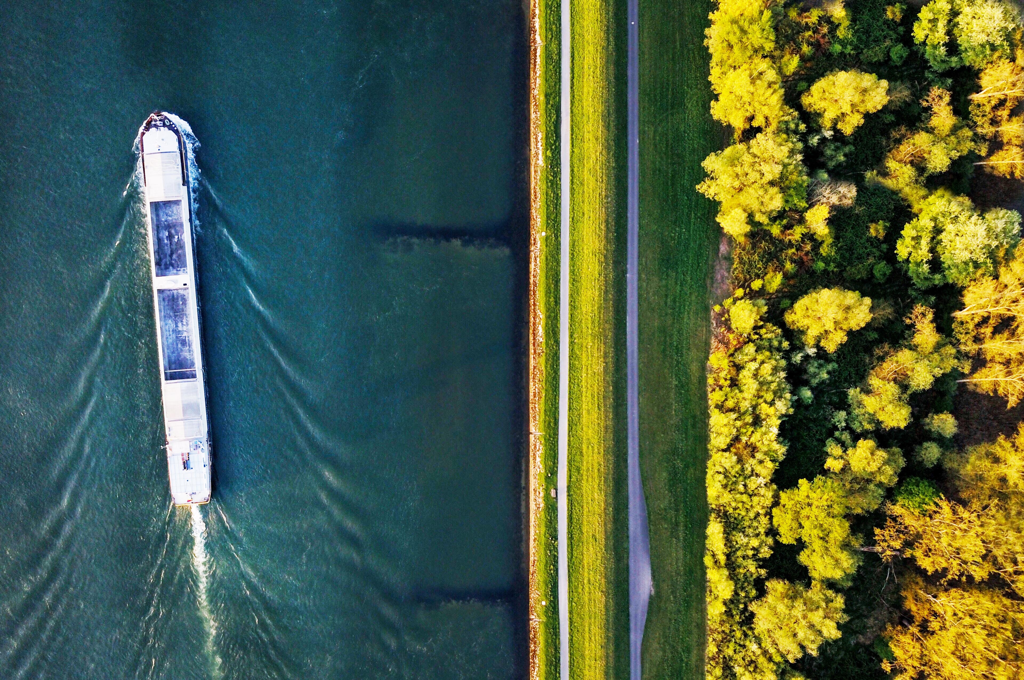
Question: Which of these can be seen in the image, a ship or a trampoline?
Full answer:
Visible in the photo is a ship.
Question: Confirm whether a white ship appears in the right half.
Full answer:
No, the scene shows no white ship in the right half.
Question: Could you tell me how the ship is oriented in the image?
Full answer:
Seen from above, the ship lies from top to bottom.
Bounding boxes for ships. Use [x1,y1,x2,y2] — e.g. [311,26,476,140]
[143,113,214,505]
